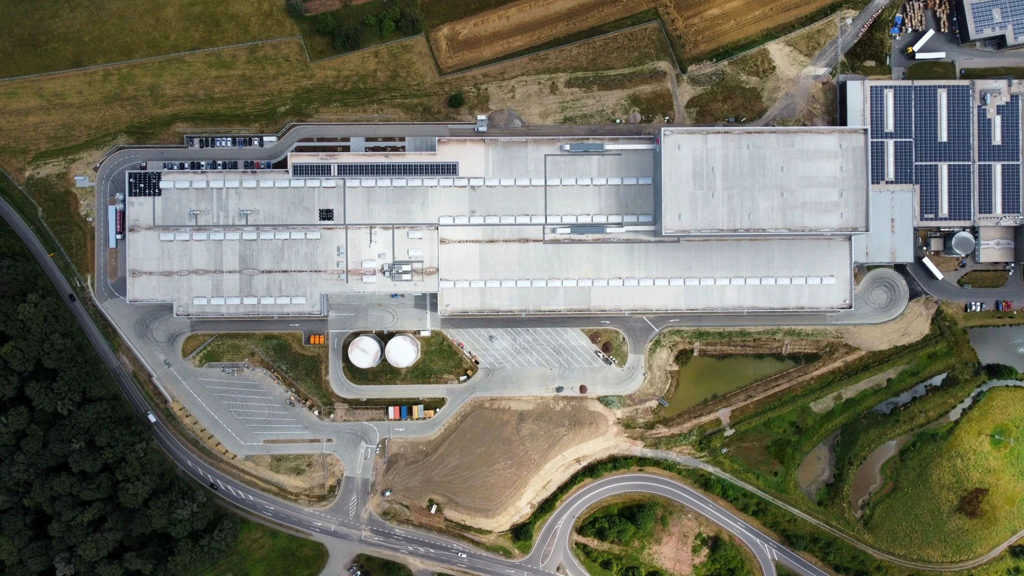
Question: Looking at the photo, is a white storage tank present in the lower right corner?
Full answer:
No, there's no white storage tank to be seen in the lower right corner.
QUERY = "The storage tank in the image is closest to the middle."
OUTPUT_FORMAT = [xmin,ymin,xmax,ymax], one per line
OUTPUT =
[385,333,420,368]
